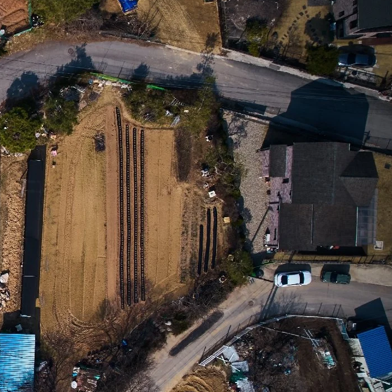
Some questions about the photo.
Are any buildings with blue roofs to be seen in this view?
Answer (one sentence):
Yes, a building with a blue roof is visible in the scene.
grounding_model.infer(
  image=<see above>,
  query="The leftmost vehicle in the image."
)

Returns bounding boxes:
[276,270,316,289]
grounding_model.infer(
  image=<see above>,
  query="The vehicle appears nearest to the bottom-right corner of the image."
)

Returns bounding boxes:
[322,269,357,287]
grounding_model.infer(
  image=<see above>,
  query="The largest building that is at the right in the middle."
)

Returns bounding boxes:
[265,143,379,252]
